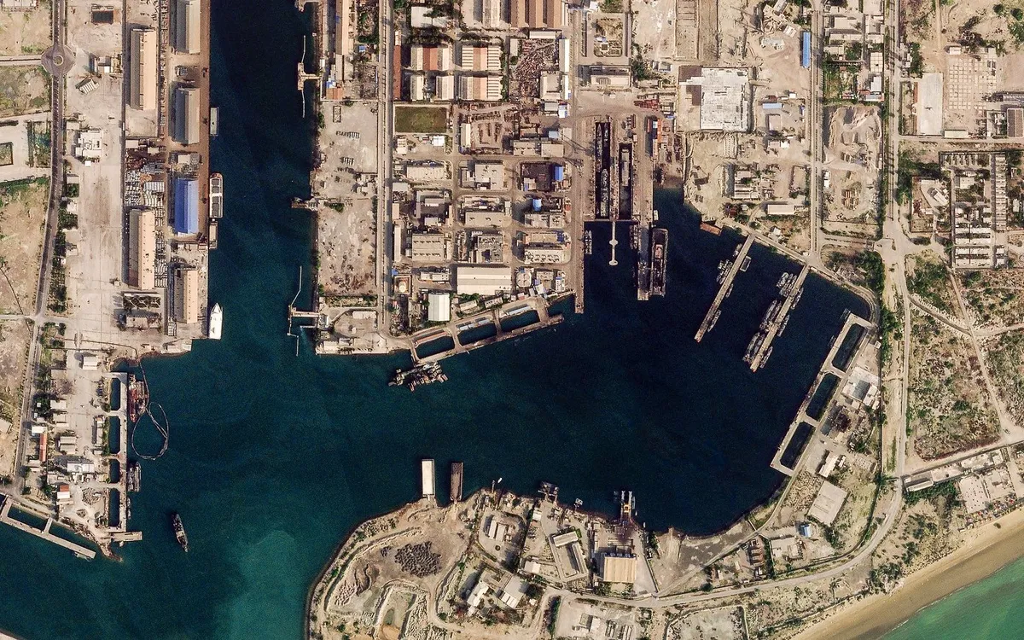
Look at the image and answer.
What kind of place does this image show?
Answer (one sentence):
It's a port.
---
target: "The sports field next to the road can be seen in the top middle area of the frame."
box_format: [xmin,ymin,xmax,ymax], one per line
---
[395,107,447,133]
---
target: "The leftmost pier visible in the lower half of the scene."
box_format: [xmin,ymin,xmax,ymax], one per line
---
[0,496,96,558]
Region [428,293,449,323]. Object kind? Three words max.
building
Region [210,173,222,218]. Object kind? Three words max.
ship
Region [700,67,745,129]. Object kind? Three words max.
building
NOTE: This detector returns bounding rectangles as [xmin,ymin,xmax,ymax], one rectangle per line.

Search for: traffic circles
[41,45,75,75]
